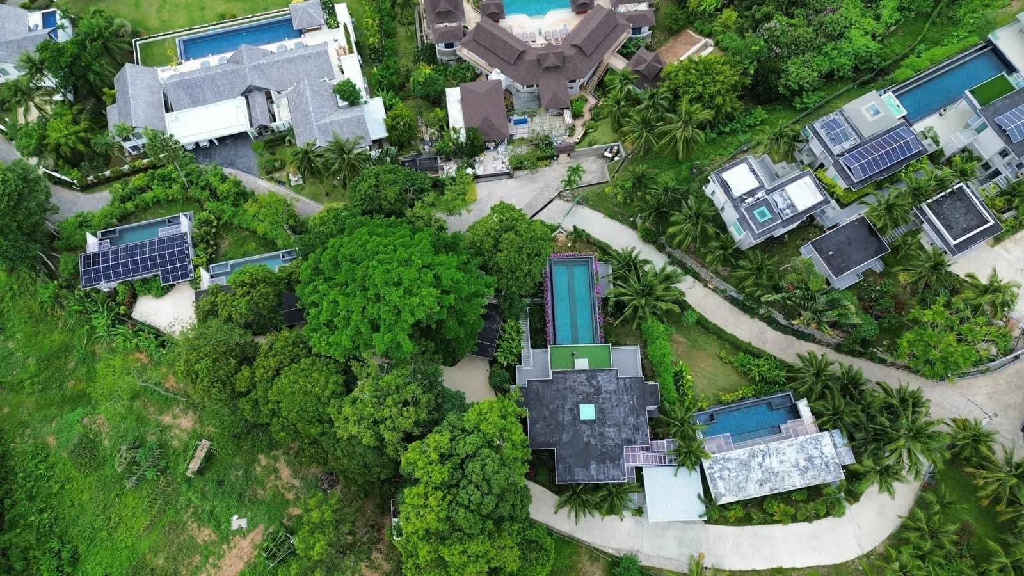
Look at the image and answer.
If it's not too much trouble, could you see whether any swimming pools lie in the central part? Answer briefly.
Yes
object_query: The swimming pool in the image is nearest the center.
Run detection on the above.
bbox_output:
[549,256,600,346]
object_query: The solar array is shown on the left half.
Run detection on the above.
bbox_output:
[82,235,189,285]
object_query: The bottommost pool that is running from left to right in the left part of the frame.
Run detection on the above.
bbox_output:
[208,248,301,281]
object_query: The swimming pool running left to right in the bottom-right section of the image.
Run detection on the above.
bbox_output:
[695,393,795,453]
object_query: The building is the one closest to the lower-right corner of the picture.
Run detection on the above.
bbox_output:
[699,432,855,505]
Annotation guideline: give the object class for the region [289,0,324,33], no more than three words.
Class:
building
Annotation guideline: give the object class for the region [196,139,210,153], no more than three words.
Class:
car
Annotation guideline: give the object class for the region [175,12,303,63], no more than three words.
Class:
swimming pool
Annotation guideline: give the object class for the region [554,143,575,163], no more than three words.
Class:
shed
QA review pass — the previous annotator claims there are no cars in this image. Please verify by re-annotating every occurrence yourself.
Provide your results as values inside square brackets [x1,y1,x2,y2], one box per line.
[196,139,210,153]
[181,143,194,154]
